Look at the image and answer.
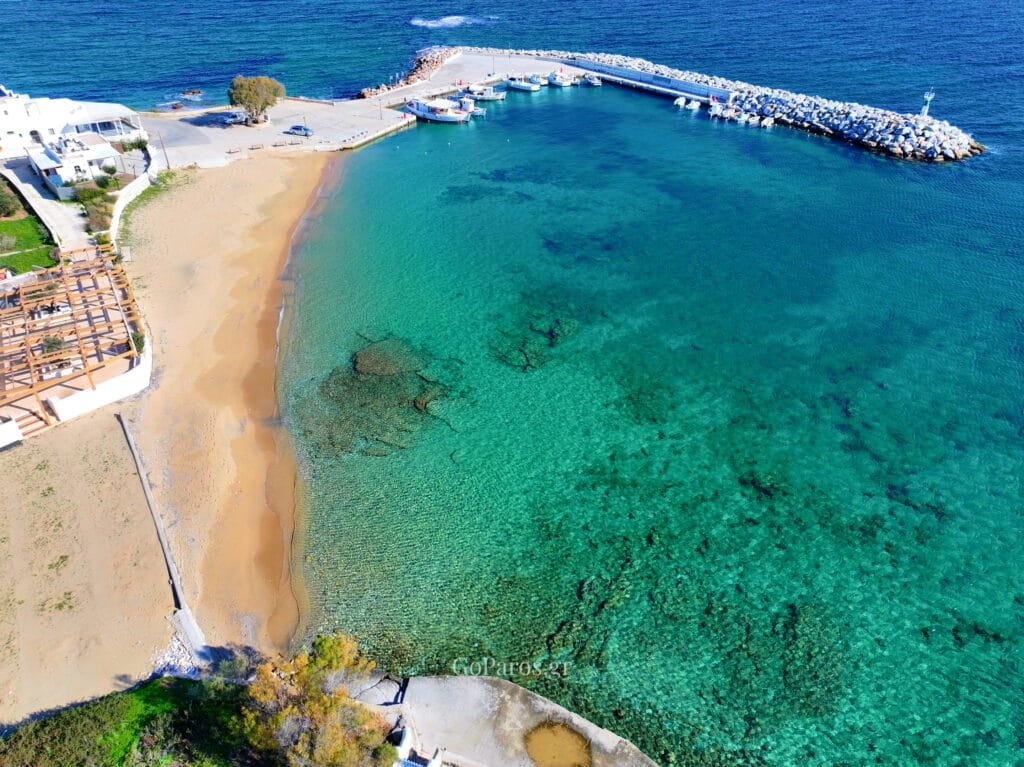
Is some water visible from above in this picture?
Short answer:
Yes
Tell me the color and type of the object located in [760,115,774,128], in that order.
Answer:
white boat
